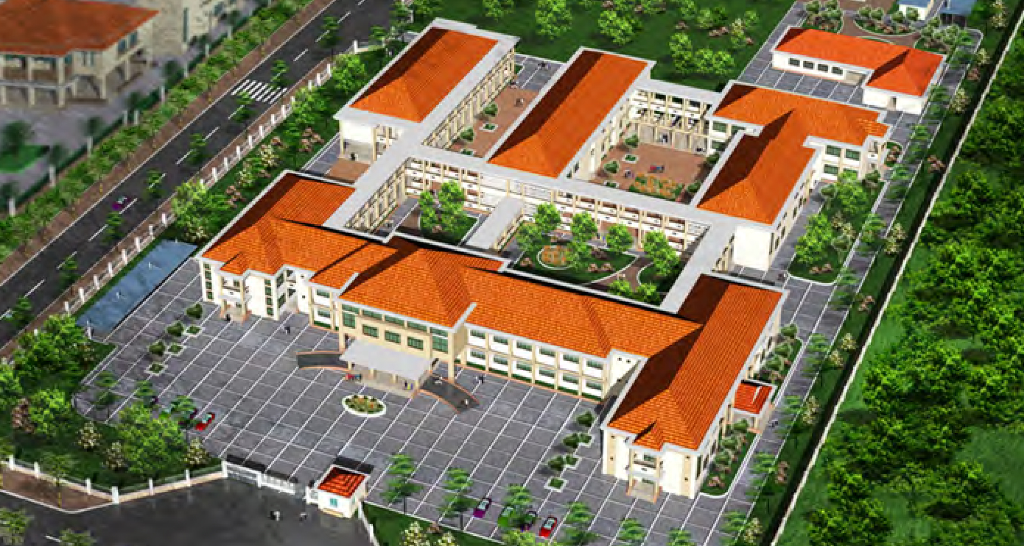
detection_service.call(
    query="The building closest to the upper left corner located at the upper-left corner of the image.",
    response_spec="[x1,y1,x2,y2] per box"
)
[0,0,161,104]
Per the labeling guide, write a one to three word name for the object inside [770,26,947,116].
building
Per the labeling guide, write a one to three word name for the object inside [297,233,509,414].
building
